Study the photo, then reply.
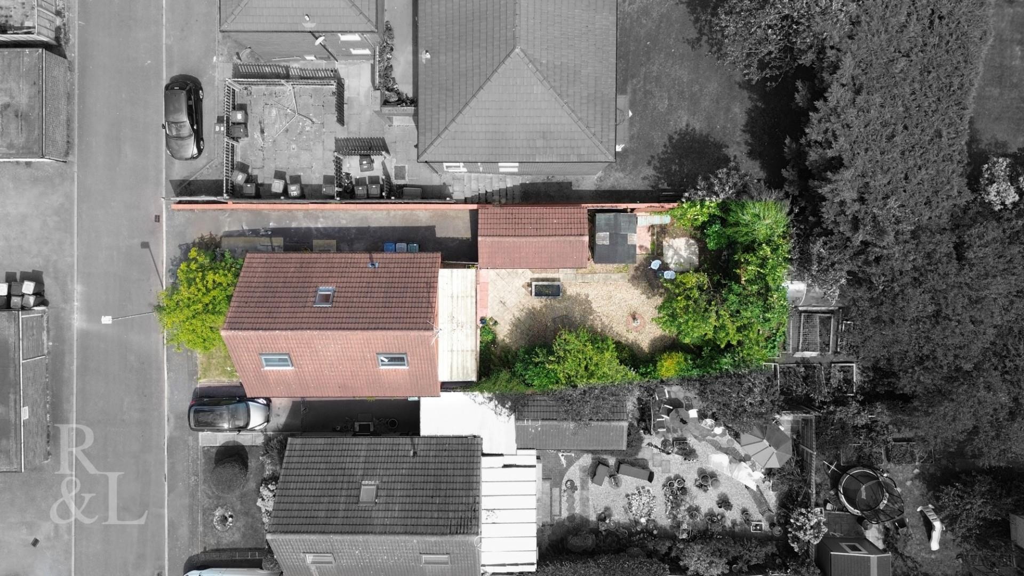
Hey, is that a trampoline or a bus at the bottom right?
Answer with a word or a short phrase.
trampoline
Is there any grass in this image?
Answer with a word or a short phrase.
Yes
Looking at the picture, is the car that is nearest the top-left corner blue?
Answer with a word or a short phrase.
No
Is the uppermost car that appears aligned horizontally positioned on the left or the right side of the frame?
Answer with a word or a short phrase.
left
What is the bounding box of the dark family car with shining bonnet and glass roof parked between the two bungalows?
[185,394,275,437]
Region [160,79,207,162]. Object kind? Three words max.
car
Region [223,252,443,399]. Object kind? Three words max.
house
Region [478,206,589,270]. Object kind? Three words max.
building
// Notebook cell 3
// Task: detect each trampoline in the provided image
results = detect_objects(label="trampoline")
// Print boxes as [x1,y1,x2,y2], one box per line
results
[829,462,905,528]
